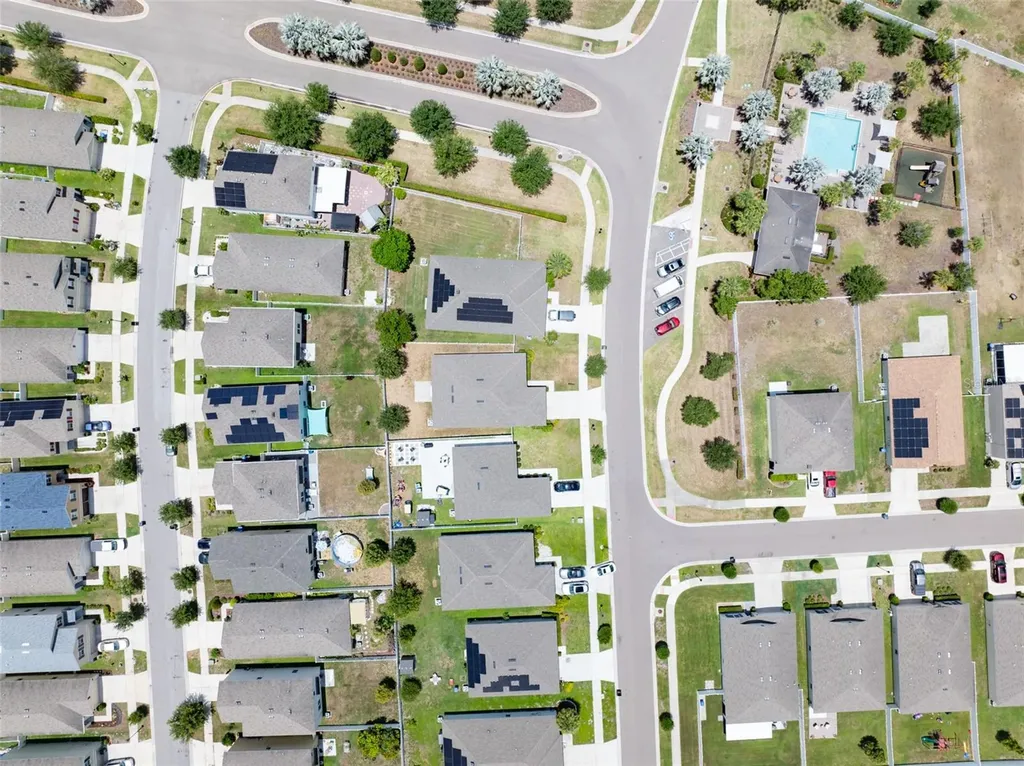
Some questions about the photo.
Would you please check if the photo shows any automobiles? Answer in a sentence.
Yes, an automobile appears in the view.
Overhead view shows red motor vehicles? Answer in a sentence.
Yes, there's a red motor vehicle here.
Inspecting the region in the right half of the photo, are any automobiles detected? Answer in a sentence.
Yes, an automobile is visible in the right half of the photo.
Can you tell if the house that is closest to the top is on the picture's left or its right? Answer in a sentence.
The house that is closest to the top is on the left side of the image.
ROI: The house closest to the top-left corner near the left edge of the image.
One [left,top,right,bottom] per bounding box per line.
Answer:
[0,106,100,174]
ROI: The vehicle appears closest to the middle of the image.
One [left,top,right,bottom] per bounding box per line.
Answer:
[549,308,575,322]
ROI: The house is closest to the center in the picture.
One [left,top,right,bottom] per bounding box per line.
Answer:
[432,353,548,428]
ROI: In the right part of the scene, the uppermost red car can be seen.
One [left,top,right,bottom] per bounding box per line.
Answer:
[653,317,681,336]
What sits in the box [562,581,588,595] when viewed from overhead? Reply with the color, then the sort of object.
white car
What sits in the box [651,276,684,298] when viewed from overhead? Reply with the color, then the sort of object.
white vehicle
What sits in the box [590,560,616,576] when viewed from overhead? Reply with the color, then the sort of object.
white car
